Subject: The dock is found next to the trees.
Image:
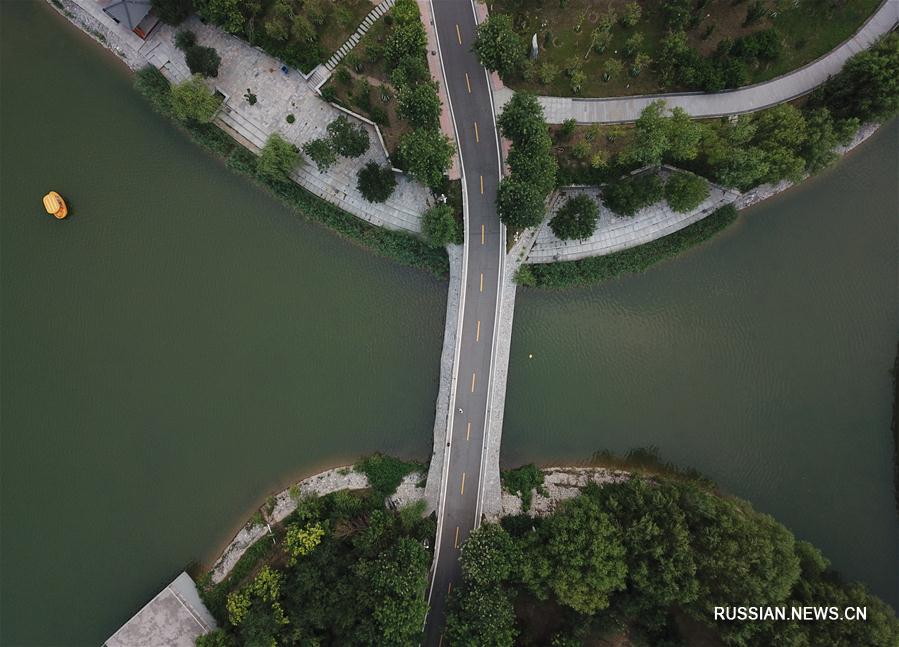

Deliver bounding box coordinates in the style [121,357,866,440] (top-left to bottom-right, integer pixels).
[100,567,225,647]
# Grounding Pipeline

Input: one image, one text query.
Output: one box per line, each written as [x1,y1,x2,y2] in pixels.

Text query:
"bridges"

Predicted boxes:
[424,238,520,517]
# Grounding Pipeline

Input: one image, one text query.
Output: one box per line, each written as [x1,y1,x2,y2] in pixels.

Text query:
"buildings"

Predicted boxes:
[102,0,160,42]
